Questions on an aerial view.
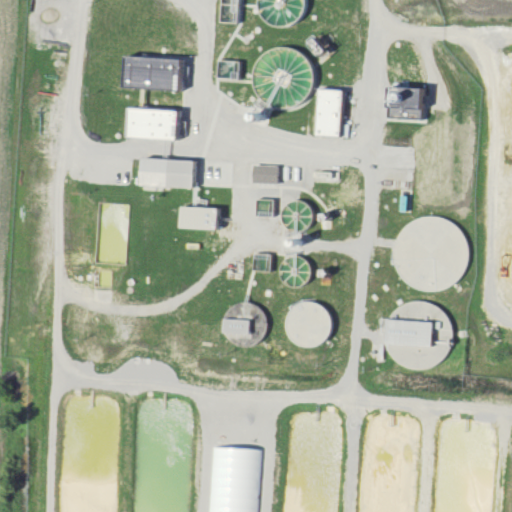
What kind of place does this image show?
industrial area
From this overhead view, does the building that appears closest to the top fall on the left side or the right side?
left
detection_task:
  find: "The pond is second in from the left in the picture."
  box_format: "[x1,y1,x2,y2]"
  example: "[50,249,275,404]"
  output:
[134,395,193,512]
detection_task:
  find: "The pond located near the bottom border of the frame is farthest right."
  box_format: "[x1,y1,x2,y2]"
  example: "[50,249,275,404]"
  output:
[434,418,497,512]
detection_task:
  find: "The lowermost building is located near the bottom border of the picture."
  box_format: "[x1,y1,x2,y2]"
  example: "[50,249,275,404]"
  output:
[212,446,264,512]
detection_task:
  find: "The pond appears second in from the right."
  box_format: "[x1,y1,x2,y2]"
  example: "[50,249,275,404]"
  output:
[360,414,420,512]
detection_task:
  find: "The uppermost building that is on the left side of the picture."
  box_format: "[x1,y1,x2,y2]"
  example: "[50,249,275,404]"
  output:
[122,57,186,91]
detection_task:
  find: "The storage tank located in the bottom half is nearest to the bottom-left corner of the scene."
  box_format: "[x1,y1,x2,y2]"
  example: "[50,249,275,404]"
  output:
[222,302,270,348]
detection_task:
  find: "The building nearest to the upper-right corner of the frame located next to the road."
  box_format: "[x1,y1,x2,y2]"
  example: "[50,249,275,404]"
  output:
[388,86,426,120]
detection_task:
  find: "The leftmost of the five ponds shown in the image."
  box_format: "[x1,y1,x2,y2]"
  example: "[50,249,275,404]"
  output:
[61,392,120,512]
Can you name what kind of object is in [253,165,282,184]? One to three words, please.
shed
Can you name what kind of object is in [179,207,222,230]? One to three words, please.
building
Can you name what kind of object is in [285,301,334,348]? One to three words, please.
storage tank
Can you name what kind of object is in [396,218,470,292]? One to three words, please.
storage tank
